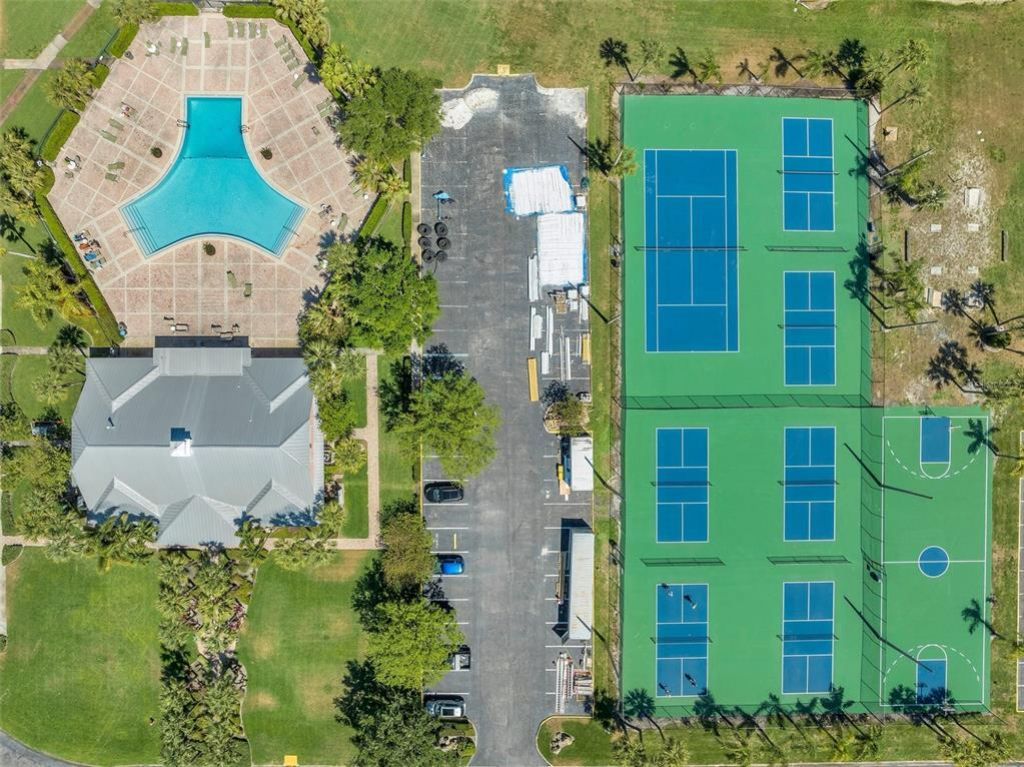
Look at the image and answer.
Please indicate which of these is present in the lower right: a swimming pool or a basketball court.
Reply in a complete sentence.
It is a basketball court that can be seen in the lower right.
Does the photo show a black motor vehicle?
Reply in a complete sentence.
Yes, looking at the shot, I can spot a black motor vehicle.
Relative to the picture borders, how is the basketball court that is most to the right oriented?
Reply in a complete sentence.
What the image shows is the basketball court that is most to the right lying up and down.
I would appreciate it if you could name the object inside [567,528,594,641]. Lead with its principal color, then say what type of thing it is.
white trailer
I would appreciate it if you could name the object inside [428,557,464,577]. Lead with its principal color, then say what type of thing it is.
blue car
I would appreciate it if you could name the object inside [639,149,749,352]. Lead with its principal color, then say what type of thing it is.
blue tennis court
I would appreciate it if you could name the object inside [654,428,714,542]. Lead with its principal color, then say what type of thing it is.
blue sports court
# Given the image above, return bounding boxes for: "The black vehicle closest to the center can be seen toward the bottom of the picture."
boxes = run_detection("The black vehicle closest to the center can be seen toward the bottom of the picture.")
[423,484,463,503]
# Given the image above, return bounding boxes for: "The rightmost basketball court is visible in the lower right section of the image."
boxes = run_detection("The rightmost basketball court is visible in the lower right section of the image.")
[880,417,988,705]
